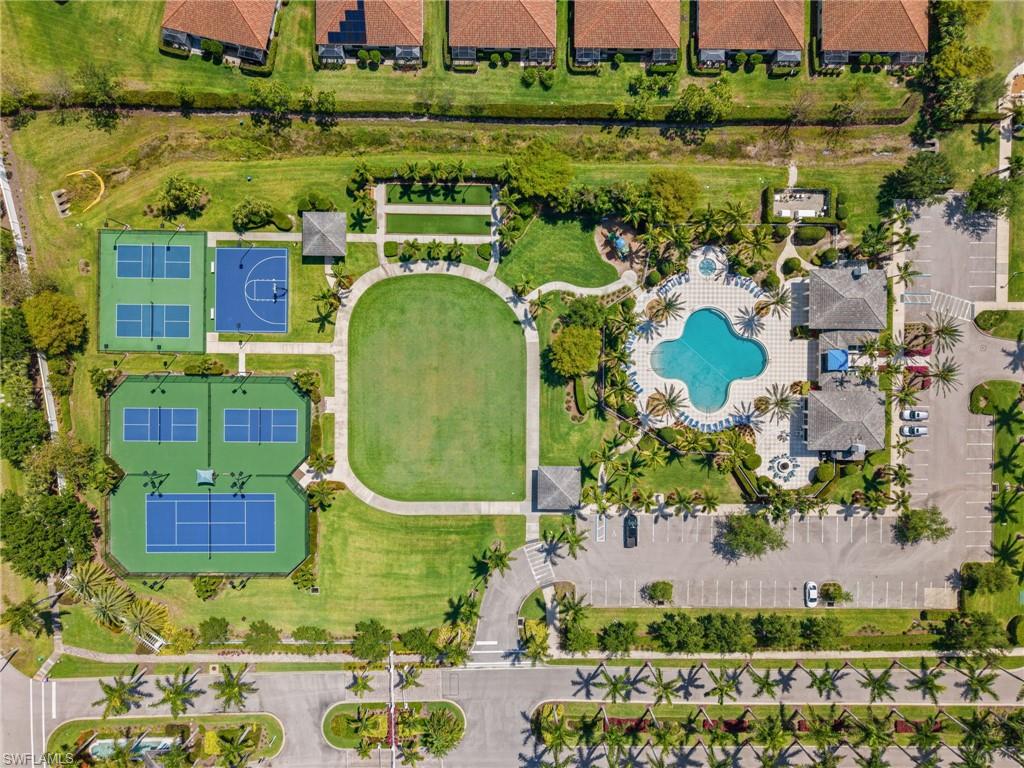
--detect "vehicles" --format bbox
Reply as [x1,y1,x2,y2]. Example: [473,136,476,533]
[899,425,928,437]
[804,582,817,607]
[899,409,928,421]
[624,514,637,547]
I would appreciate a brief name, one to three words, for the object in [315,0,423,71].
house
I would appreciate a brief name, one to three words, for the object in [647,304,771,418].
swimming pool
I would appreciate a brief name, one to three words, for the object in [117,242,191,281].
sports court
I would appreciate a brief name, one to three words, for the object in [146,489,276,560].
tennis court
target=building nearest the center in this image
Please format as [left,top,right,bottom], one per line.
[538,466,581,509]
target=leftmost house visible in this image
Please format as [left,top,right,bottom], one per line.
[159,0,279,72]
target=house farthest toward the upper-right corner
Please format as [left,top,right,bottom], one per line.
[818,0,928,76]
